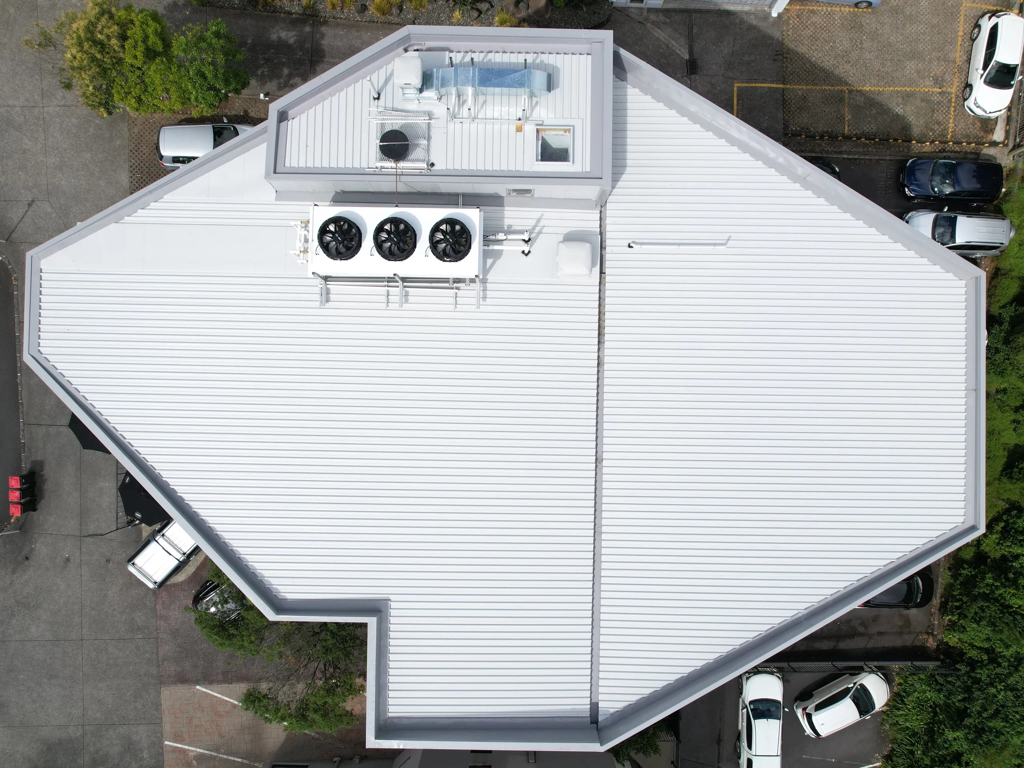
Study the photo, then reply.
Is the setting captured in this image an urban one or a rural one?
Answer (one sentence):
It looks urban.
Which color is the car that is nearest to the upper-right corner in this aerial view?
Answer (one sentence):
The car that is nearest to the upper-right corner looks white in the image.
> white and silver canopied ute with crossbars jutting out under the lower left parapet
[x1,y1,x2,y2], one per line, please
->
[119,517,203,592]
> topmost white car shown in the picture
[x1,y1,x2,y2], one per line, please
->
[963,13,1024,122]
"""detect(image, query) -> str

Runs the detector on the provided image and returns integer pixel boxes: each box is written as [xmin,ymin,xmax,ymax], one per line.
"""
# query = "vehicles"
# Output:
[154,119,252,171]
[119,517,203,592]
[808,156,843,185]
[901,201,1023,258]
[789,0,879,11]
[794,670,894,742]
[896,150,1015,207]
[735,671,793,768]
[854,567,934,615]
[963,13,1024,122]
